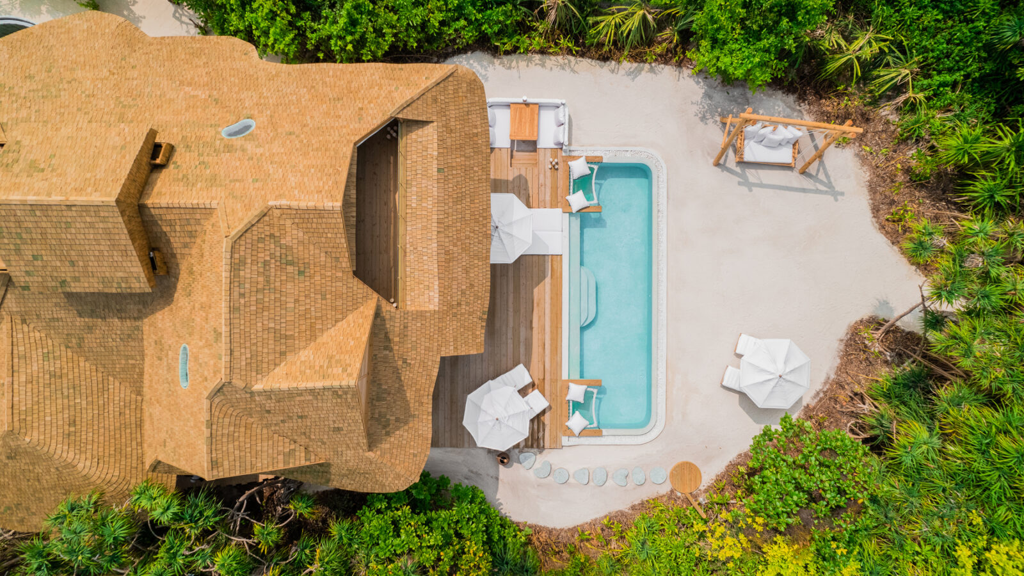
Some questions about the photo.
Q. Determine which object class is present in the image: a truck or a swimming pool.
swimming pool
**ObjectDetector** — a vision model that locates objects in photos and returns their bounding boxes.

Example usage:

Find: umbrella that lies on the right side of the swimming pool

[741,341,808,407]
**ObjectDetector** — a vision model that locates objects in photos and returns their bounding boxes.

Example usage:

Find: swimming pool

[561,148,667,445]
